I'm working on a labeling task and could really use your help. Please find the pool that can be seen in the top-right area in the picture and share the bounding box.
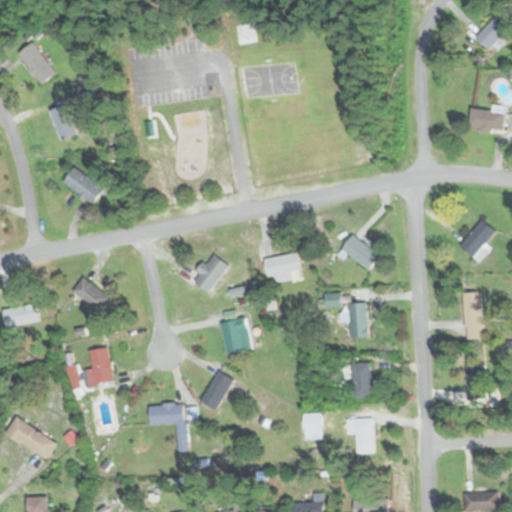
[492,78,512,106]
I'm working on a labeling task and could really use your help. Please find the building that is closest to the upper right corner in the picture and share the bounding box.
[476,18,503,49]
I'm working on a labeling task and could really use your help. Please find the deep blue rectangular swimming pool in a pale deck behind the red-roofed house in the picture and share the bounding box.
[92,395,119,436]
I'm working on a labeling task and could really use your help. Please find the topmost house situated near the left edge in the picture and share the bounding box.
[18,43,57,84]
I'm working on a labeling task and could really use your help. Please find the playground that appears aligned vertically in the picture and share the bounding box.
[174,111,208,179]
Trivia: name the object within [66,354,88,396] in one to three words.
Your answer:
building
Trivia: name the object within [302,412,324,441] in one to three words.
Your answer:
building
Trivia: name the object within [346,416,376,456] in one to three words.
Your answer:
house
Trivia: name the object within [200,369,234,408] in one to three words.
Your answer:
house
